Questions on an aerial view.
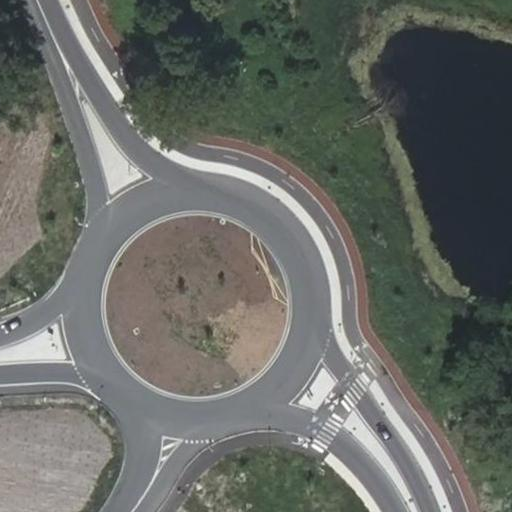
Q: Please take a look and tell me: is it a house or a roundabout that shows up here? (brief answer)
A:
roundabout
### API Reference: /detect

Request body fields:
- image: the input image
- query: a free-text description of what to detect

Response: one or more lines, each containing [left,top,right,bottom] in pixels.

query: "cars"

[376,422,392,441]
[2,318,20,332]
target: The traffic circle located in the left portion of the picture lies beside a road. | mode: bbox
[59,168,339,478]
